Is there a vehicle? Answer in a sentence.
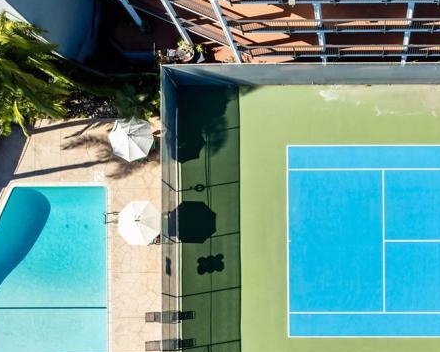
No, the photo shows no vehicle.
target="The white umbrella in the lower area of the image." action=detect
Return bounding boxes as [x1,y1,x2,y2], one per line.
[119,202,161,244]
